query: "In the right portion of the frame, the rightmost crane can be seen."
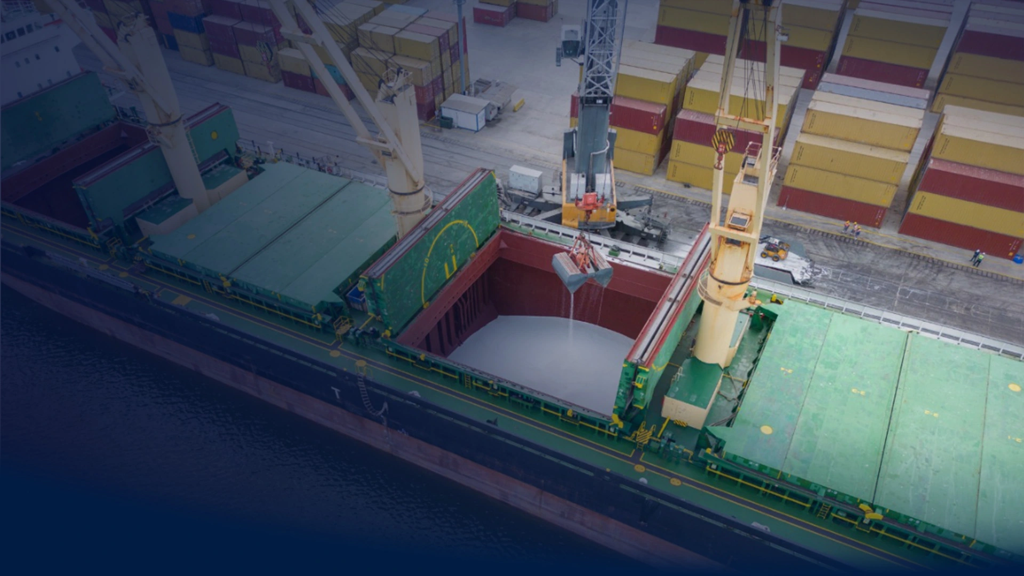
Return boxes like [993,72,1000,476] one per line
[688,0,794,366]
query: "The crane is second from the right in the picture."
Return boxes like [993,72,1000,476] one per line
[498,0,671,255]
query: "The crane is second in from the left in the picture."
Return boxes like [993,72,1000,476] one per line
[263,0,437,242]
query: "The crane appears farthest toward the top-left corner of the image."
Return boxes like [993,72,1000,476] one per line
[47,0,213,212]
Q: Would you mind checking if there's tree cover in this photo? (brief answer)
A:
No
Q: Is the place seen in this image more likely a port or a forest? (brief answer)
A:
port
